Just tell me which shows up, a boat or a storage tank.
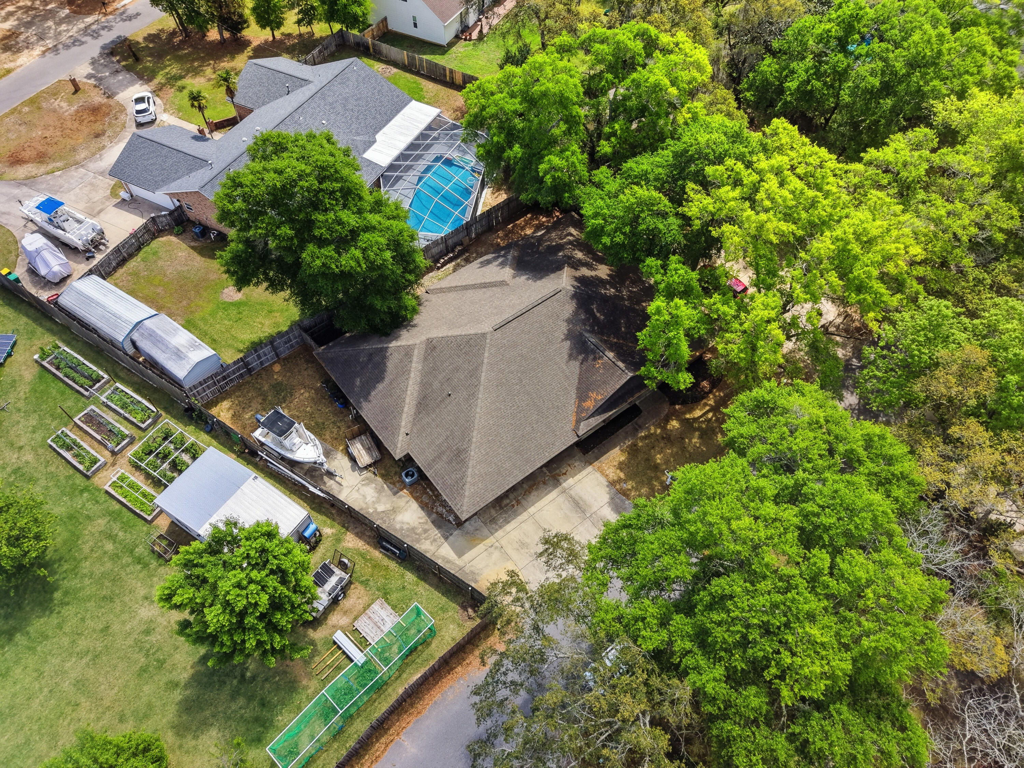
boat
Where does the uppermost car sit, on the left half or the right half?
left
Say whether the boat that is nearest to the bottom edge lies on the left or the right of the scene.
left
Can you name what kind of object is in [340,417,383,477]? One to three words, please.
trailer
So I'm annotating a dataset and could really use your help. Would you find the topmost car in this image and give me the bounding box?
[125,88,158,126]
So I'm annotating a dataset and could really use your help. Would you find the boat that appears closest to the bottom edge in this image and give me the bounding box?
[250,412,337,476]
